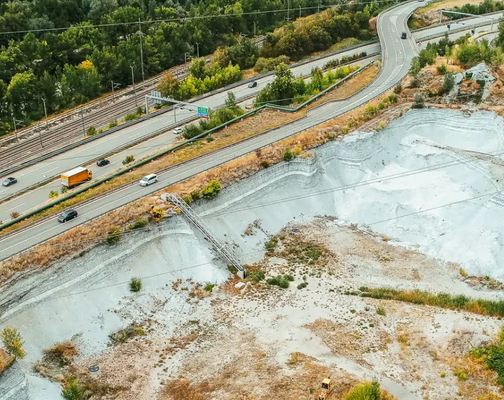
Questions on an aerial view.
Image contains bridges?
Yes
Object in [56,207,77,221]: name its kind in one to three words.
vehicle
